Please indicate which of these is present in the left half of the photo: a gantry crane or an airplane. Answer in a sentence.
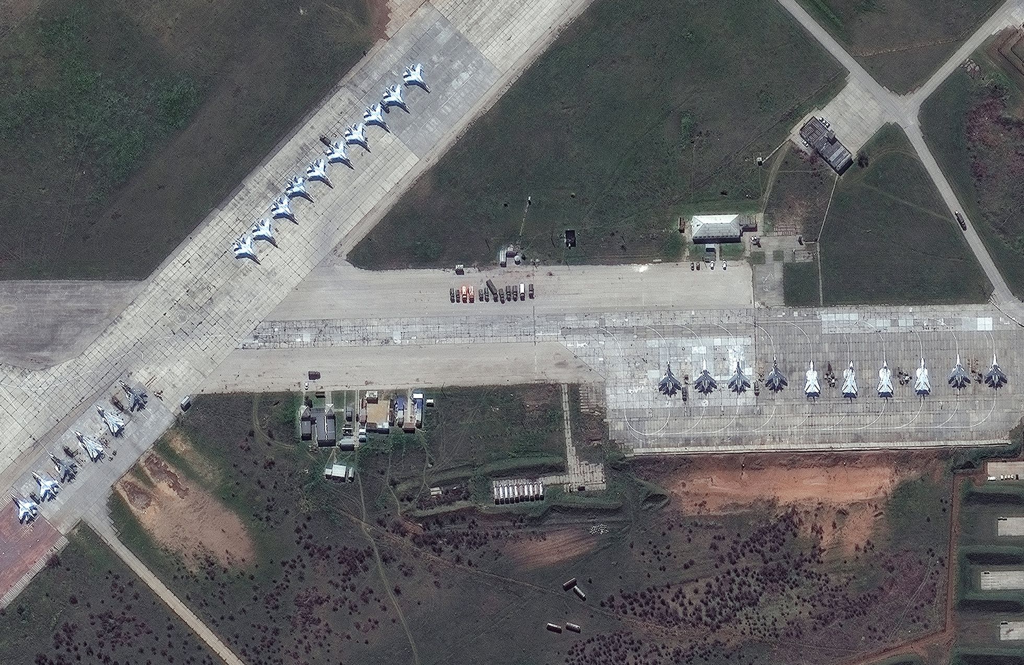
Visible in the left half of the photo is an airplane.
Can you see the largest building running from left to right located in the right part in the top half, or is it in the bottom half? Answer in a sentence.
You can find the largest building running from left to right located in the right part in the top half.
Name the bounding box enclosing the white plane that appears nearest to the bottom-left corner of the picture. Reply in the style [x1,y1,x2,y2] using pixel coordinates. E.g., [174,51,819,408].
[12,496,41,527]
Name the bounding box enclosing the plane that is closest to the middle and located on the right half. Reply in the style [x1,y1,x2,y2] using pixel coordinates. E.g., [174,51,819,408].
[657,360,682,396]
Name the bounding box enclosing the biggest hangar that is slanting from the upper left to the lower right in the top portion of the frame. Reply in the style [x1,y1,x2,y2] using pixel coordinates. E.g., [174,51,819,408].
[800,117,852,171]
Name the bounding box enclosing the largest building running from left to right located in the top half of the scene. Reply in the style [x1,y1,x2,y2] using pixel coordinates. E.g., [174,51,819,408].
[693,216,741,238]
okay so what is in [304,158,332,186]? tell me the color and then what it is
white airplane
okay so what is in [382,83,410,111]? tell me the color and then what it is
white airplane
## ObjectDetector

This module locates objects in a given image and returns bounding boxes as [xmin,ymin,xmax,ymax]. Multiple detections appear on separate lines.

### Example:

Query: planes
[249,216,277,244]
[657,360,682,396]
[50,453,79,483]
[304,158,332,186]
[342,123,370,150]
[76,432,103,462]
[727,360,751,396]
[361,102,389,130]
[12,496,41,527]
[382,83,410,111]
[842,361,858,395]
[33,473,61,502]
[915,358,932,392]
[324,137,353,165]
[119,381,148,411]
[804,360,821,395]
[947,355,971,390]
[878,361,894,395]
[285,173,314,201]
[231,233,259,262]
[269,193,298,221]
[693,358,717,394]
[402,63,430,91]
[96,406,124,436]
[983,354,1007,390]
[764,355,788,391]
